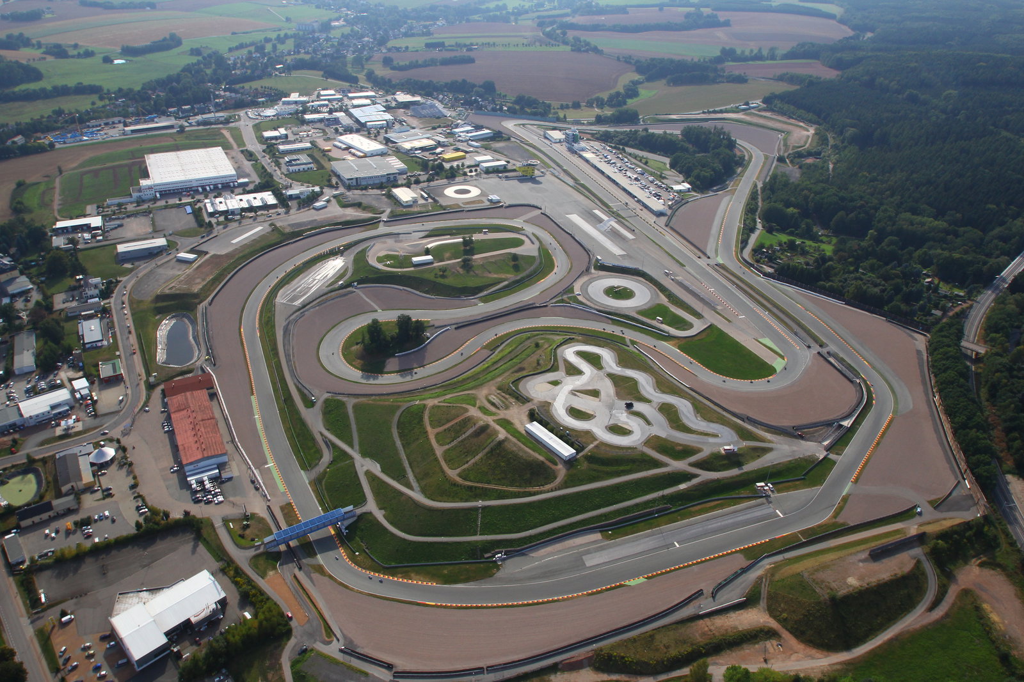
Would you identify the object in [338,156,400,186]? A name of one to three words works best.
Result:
building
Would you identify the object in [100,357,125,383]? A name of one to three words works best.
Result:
building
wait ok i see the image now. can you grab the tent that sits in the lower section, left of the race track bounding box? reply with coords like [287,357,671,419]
[90,447,118,469]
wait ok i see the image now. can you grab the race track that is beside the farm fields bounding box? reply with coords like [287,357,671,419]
[244,118,894,603]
